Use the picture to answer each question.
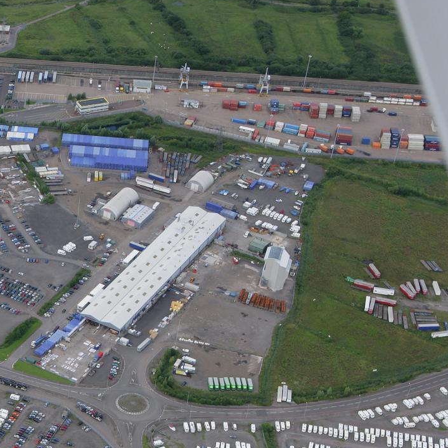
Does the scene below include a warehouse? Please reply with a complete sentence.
Yes, the photo shows a warehouse.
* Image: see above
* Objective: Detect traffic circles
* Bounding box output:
[99,381,168,427]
